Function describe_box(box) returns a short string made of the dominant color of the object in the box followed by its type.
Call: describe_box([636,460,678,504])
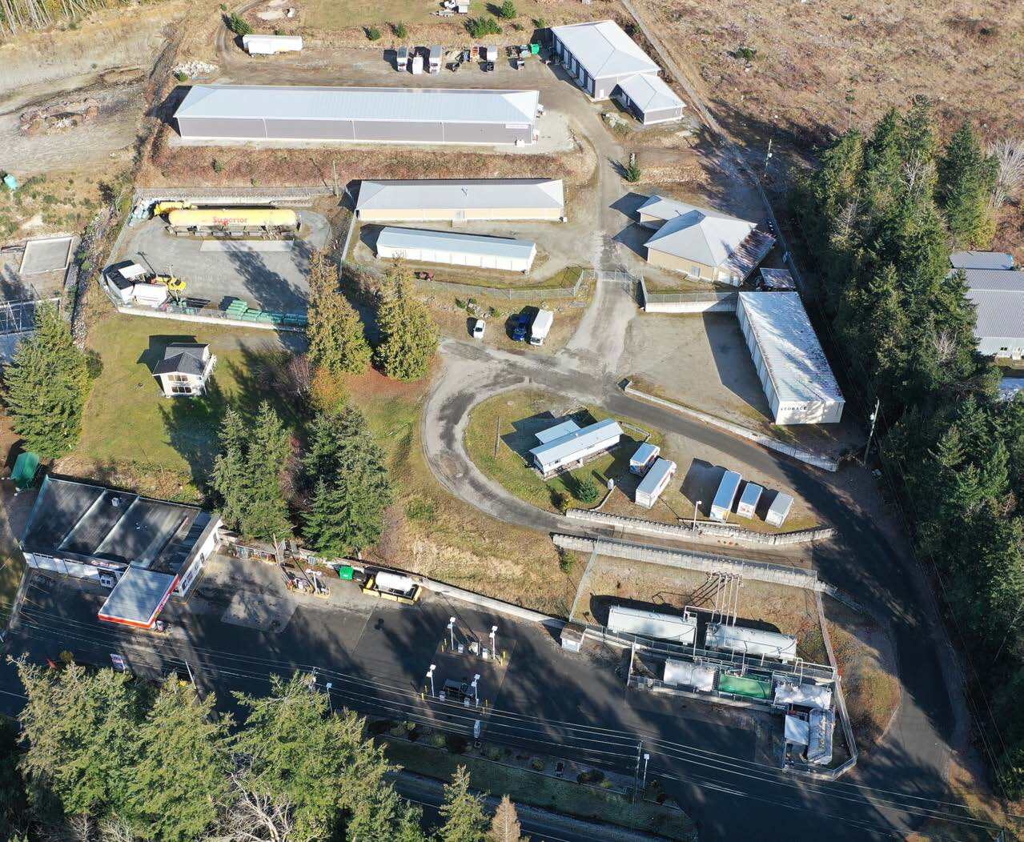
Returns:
white truck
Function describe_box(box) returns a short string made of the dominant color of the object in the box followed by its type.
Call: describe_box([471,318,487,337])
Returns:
white car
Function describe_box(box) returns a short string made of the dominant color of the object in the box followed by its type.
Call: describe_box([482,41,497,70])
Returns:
white vehicle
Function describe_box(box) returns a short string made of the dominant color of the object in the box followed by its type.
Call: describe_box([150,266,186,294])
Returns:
yellow truck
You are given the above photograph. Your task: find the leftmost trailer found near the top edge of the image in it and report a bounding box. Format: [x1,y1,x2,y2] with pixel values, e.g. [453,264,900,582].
[244,33,299,55]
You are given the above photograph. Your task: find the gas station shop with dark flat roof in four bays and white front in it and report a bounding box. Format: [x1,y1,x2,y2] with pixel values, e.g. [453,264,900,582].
[22,474,226,607]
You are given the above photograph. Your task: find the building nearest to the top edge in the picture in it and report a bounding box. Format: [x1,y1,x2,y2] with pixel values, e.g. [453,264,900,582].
[549,18,665,101]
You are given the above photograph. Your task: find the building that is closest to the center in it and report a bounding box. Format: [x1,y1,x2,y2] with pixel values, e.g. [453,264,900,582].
[525,414,632,486]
